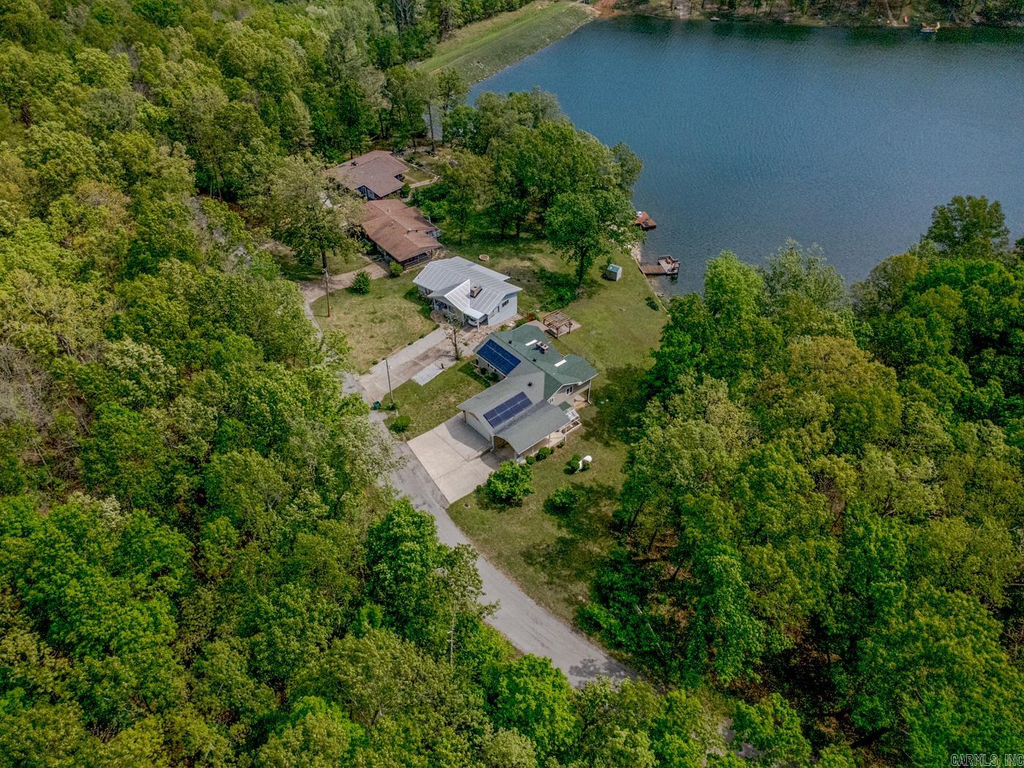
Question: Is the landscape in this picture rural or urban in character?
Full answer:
The area is rural.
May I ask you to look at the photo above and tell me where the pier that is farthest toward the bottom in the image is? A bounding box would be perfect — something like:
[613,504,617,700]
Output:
[648,254,681,277]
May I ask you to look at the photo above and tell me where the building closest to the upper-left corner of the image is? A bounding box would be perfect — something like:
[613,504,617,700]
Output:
[318,151,416,202]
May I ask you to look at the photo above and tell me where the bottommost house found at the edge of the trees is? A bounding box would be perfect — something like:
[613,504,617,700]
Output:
[457,326,599,468]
